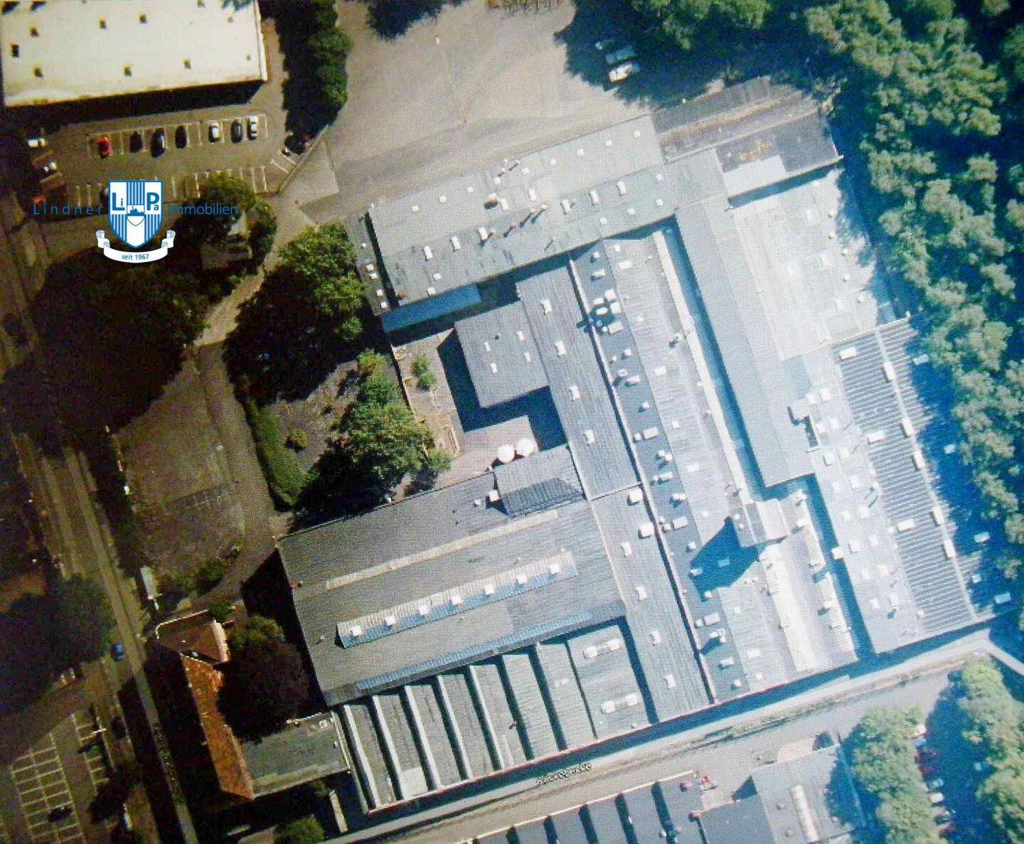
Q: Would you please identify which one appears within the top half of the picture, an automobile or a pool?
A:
automobile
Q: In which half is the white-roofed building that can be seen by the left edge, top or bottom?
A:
top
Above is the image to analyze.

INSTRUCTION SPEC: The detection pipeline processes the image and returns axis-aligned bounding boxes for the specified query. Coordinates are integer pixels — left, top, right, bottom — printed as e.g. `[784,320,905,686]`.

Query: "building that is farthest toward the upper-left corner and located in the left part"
[0,0,270,110]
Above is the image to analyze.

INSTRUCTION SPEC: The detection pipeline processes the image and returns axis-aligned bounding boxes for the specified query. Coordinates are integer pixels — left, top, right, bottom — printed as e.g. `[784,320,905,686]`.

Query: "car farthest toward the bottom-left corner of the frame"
[48,806,71,822]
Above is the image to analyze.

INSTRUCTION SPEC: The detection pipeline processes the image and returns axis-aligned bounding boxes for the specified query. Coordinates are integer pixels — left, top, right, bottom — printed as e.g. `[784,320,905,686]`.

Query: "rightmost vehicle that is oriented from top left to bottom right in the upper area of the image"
[279,138,296,157]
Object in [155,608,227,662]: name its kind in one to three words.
house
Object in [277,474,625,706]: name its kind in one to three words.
building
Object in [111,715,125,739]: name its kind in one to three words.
car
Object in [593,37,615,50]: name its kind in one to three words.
vehicle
